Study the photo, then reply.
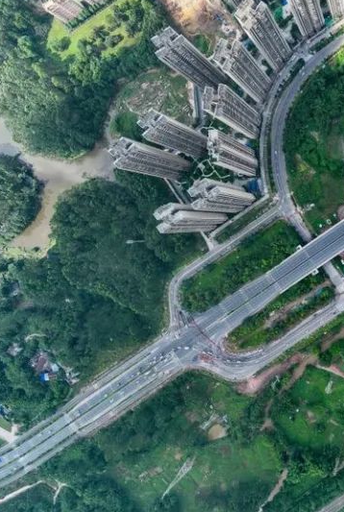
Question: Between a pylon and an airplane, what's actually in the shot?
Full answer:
There is a pylon in the scene.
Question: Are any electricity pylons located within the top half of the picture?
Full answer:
No, there is no electricity pylon within the top half of the picture.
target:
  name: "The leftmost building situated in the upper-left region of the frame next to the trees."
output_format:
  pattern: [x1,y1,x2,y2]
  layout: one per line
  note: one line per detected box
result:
[42,0,87,23]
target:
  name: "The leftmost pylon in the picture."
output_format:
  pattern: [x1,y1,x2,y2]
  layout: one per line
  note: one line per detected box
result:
[156,455,195,499]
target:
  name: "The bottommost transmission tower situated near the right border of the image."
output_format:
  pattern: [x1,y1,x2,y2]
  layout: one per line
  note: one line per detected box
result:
[327,461,344,482]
